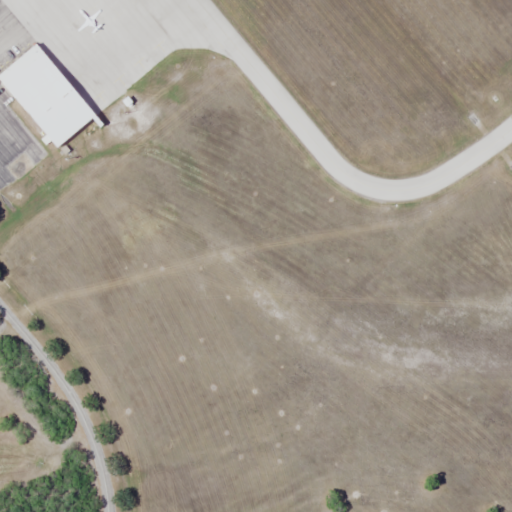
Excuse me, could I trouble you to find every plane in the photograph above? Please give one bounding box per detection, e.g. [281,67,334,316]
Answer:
[79,10,102,33]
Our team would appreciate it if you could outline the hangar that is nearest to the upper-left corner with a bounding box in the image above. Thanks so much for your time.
[0,42,104,148]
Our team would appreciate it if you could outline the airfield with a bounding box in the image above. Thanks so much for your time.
[0,0,512,204]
